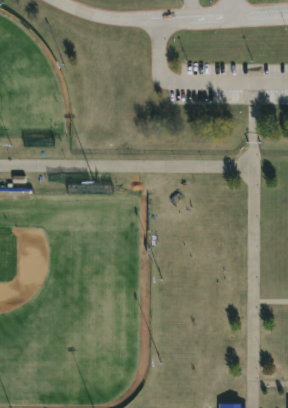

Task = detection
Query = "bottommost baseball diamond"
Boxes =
[0,191,148,408]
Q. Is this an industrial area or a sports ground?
sports ground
